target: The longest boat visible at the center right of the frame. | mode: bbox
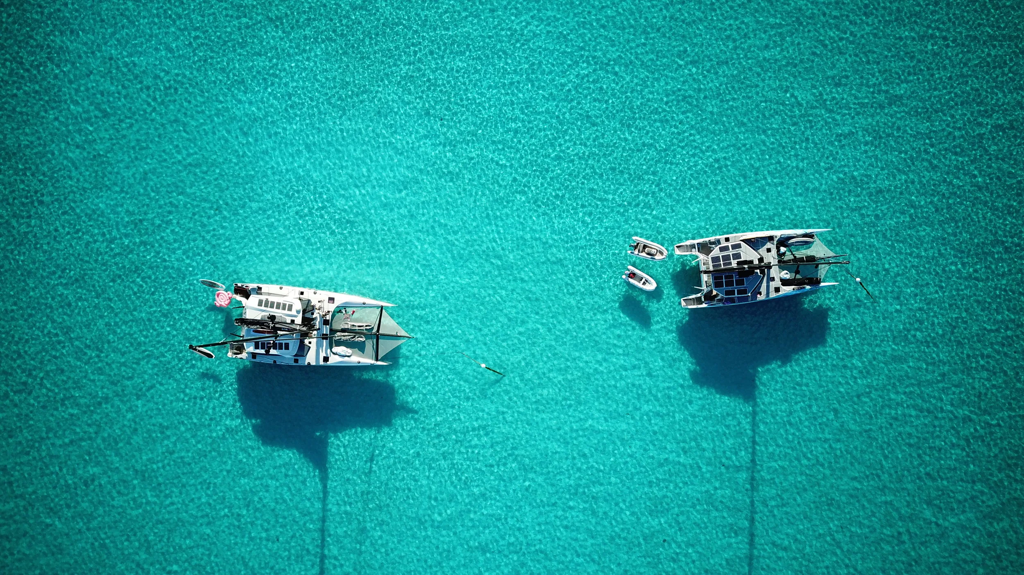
[673,229,853,308]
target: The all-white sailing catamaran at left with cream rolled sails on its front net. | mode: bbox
[184,283,414,365]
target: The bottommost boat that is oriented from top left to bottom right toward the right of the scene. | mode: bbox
[622,263,658,290]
